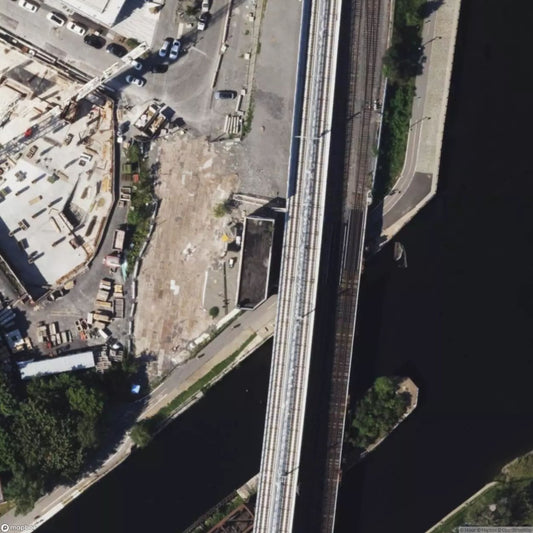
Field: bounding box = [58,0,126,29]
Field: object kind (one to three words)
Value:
building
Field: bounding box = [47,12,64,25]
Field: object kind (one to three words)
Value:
vehicle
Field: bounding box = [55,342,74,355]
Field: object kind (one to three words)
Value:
vehicle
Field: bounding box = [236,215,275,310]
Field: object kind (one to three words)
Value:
building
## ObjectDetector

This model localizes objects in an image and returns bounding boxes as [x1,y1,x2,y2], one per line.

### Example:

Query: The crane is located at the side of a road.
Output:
[0,40,149,164]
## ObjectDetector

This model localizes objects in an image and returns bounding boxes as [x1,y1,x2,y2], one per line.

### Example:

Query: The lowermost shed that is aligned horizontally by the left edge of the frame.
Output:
[19,351,95,379]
